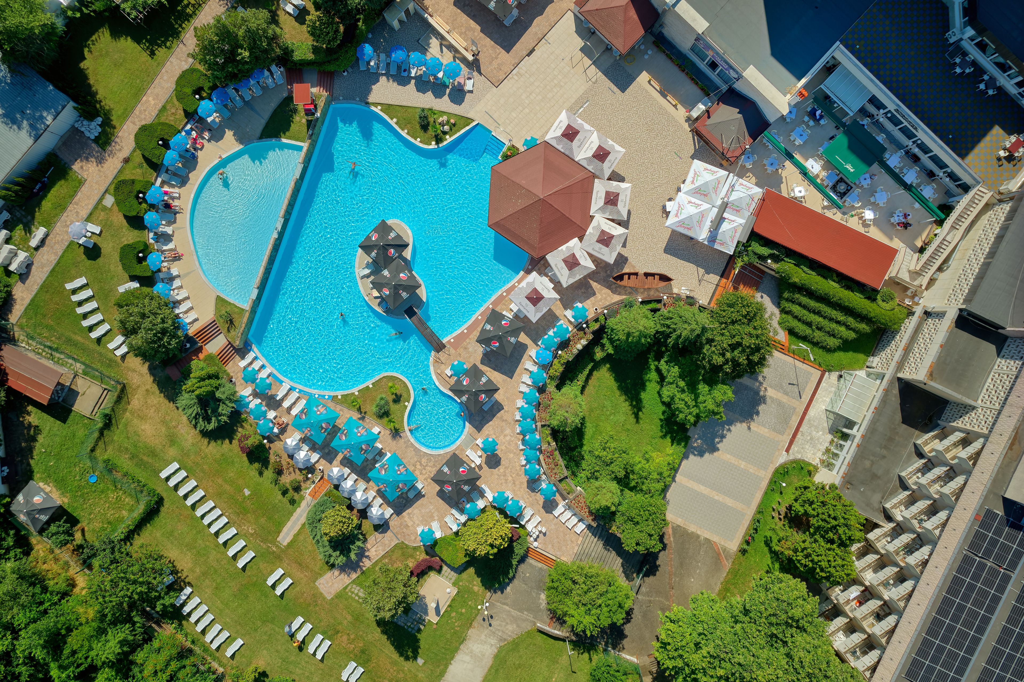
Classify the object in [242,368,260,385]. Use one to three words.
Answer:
umbrella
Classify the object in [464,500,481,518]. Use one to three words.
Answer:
umbrella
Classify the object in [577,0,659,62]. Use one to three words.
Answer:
shed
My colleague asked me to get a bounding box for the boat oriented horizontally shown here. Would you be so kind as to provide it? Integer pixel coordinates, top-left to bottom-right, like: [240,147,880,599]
[612,271,675,287]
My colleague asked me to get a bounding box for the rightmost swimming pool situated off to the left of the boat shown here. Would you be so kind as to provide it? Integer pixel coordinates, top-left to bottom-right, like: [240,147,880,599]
[251,105,528,450]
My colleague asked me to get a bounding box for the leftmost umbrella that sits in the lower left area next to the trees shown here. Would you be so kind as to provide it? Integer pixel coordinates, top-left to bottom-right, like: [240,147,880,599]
[12,480,62,532]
